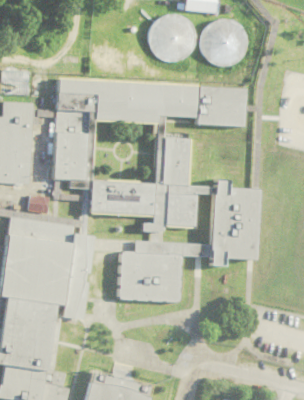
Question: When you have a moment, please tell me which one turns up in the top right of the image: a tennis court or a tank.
tank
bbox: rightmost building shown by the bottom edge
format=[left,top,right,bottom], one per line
[86,369,154,400]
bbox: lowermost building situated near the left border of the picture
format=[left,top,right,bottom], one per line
[0,367,71,400]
